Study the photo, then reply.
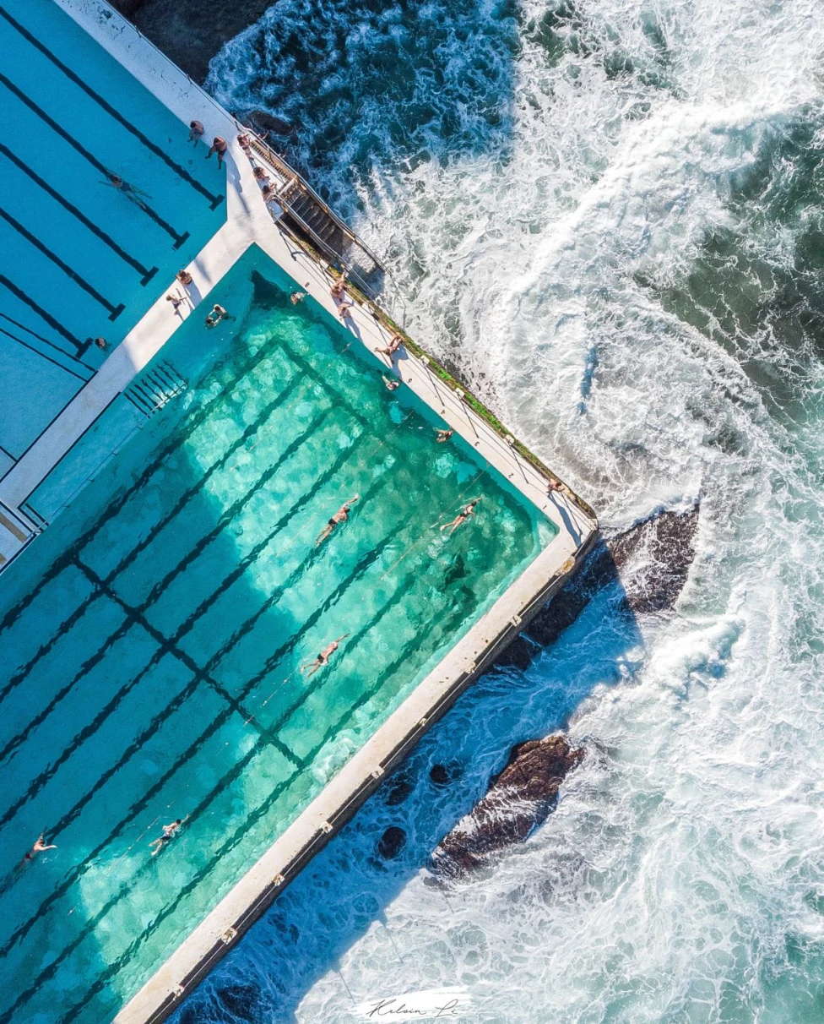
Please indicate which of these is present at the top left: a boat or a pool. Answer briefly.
pool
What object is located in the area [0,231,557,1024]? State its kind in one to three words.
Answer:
swimming pool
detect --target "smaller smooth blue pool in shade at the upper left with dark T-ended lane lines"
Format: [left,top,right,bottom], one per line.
[0,0,228,484]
